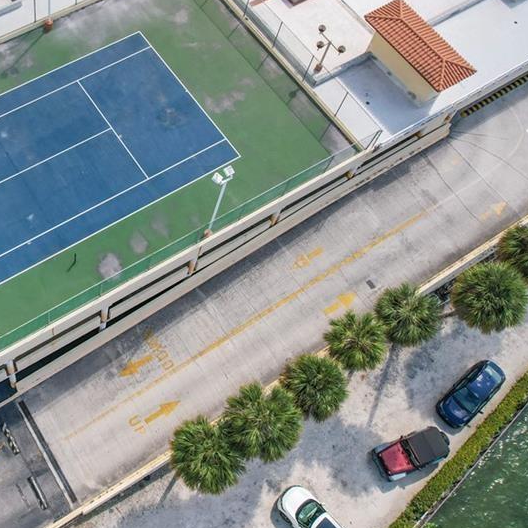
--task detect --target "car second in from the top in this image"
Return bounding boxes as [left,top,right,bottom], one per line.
[369,425,455,481]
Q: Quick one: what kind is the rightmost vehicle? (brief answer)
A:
car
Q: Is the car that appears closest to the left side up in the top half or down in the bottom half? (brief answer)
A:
bottom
